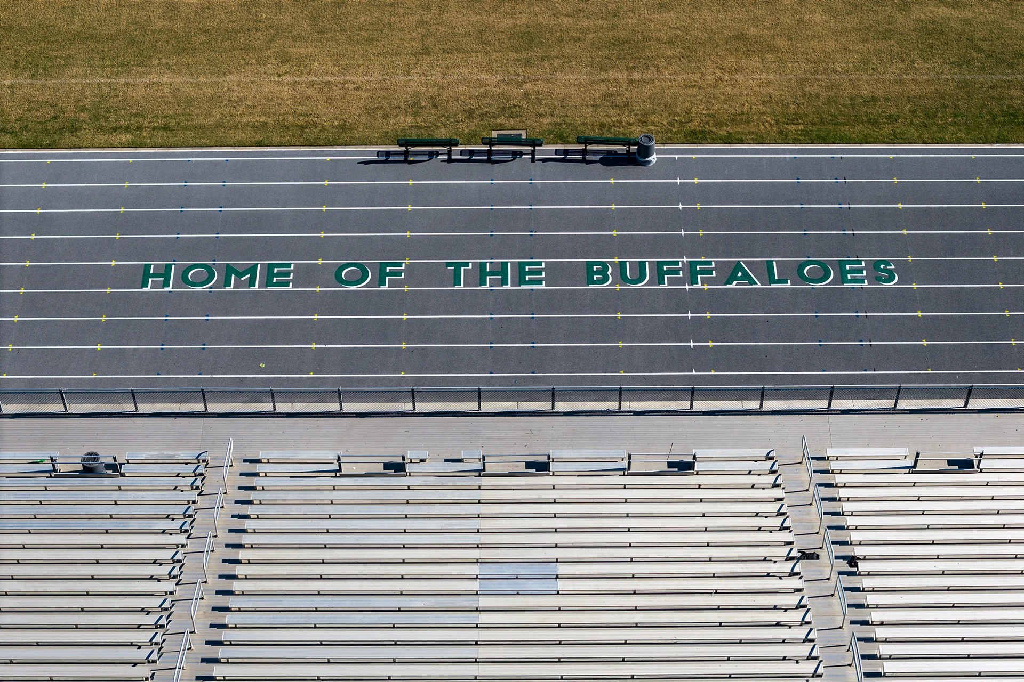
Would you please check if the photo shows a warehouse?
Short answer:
No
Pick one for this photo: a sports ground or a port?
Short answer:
sports ground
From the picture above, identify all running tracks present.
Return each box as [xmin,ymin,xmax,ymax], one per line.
[0,147,1024,404]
